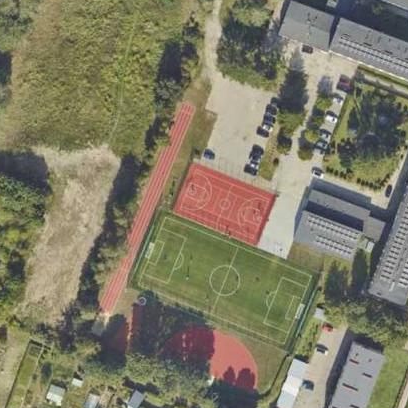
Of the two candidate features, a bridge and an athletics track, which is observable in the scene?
athletics track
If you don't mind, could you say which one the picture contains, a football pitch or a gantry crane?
football pitch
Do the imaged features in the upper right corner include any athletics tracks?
No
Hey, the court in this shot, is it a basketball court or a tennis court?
basketball court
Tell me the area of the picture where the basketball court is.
center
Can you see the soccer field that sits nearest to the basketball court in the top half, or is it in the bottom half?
bottom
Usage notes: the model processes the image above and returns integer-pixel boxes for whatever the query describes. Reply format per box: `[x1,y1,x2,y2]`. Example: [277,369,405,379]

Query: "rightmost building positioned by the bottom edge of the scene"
[328,341,385,408]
